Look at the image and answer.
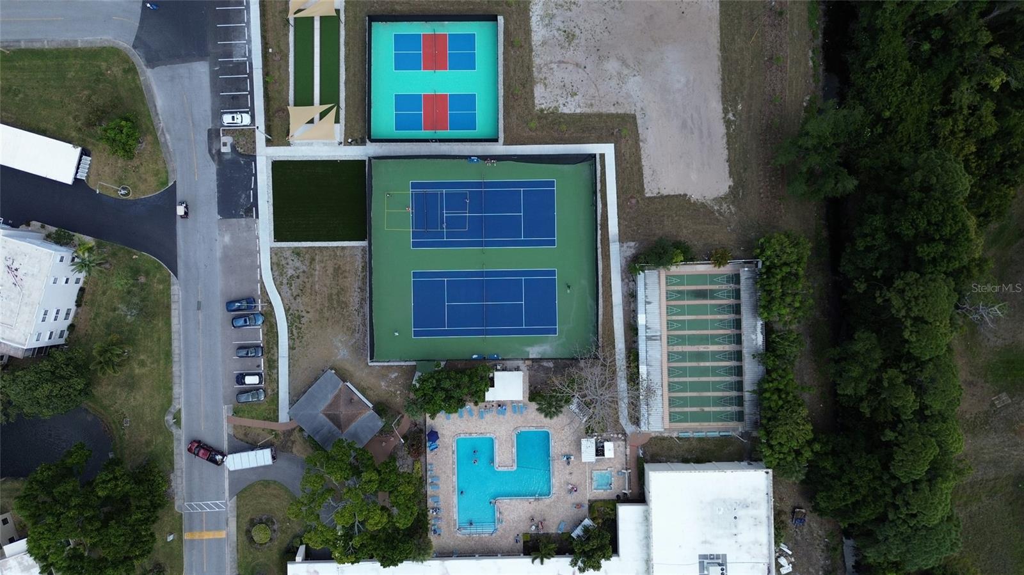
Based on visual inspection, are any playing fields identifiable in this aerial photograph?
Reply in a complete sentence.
Yes, the image includes a playing field.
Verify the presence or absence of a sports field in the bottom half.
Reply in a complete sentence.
No, in the bottom half there is no sports field.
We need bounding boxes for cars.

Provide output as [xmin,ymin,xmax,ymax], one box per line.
[236,389,266,404]
[236,345,264,358]
[222,112,252,127]
[227,298,257,312]
[237,373,263,386]
[233,313,264,328]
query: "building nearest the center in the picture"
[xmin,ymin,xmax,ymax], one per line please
[485,370,523,405]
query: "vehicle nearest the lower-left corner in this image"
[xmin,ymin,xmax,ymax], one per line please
[187,440,227,465]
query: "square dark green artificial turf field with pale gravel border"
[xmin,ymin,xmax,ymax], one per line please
[273,159,366,242]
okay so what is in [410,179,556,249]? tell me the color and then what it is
blue tennis court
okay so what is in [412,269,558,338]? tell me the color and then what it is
blue tennis court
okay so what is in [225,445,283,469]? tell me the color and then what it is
white trailer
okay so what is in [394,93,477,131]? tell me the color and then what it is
blue sports court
